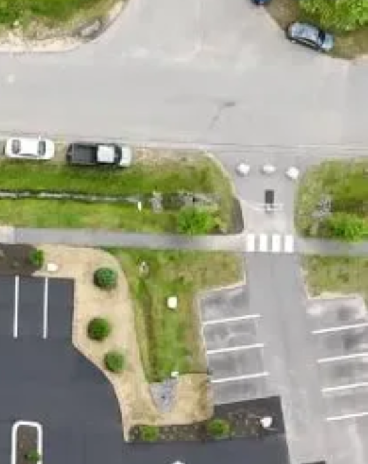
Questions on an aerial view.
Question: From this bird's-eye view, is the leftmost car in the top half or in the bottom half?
top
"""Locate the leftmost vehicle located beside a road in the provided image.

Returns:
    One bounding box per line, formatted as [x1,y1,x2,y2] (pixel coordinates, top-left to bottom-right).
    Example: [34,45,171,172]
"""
[4,134,53,160]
